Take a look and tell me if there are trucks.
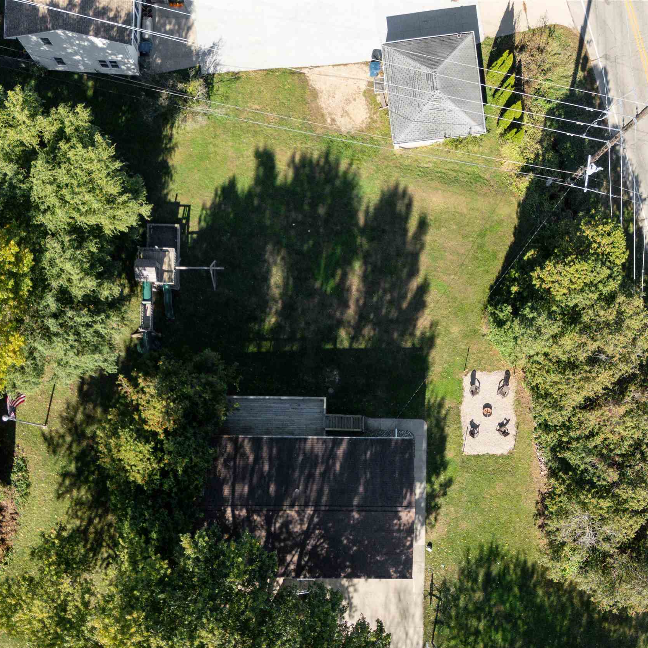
No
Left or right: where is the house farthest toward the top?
left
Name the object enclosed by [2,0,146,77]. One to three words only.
house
